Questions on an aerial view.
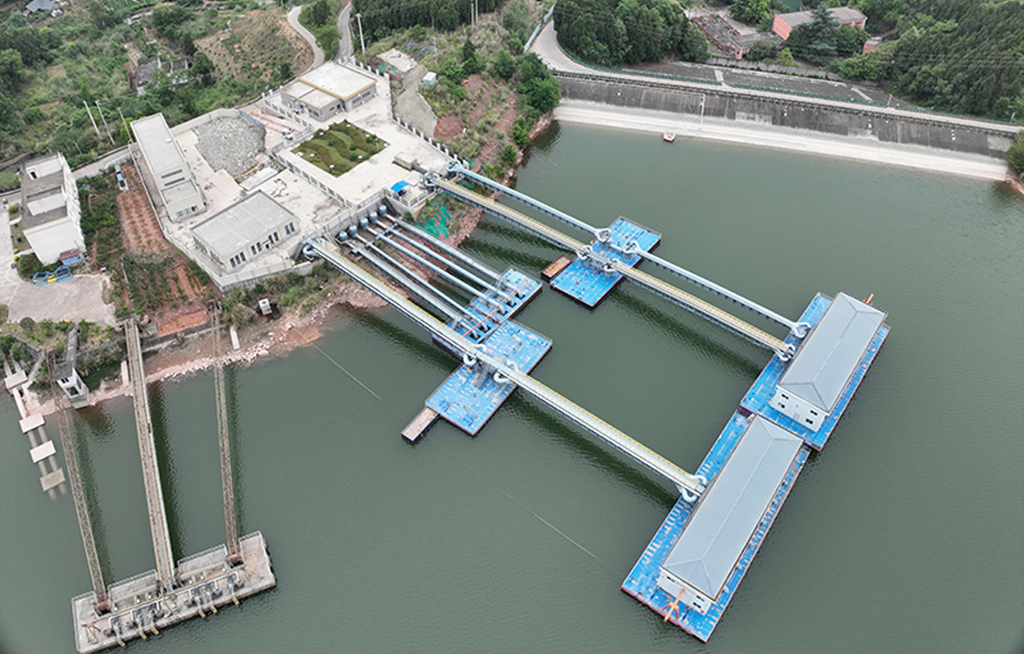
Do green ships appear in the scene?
No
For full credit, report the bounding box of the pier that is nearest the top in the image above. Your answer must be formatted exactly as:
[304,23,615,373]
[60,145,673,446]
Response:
[550,213,661,311]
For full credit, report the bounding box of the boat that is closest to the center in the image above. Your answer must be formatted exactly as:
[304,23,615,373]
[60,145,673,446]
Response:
[542,256,571,278]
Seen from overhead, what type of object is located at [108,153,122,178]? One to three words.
vehicle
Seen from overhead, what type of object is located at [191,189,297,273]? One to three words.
building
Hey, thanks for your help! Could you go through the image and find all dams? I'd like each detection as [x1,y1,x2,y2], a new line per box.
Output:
[548,55,1024,184]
